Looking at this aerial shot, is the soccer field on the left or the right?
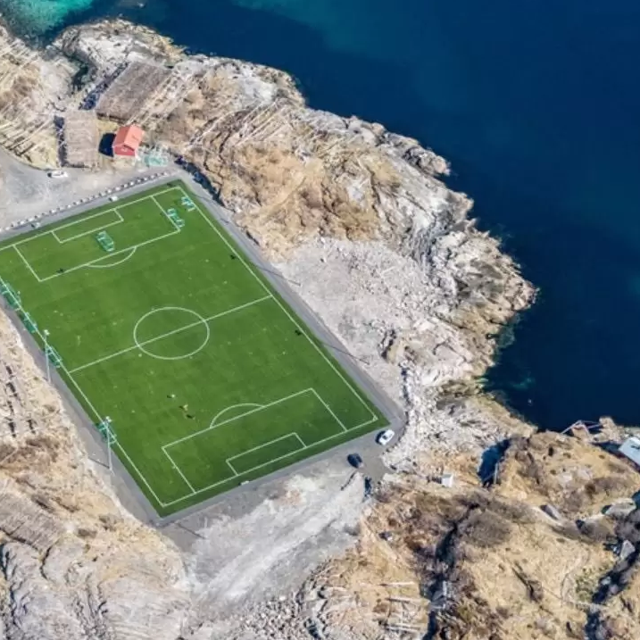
left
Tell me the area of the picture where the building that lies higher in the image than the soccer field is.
top left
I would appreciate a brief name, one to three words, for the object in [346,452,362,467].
car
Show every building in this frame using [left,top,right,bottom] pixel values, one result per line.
[114,124,140,156]
[441,473,454,488]
[612,431,640,470]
